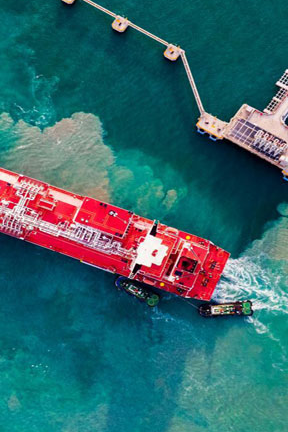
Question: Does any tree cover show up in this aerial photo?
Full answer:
No, there is no tree cover in the image.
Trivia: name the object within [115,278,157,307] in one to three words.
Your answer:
boat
